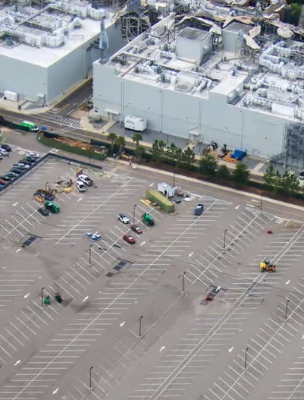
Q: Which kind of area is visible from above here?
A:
parking lot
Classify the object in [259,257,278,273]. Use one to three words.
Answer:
work vehicle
